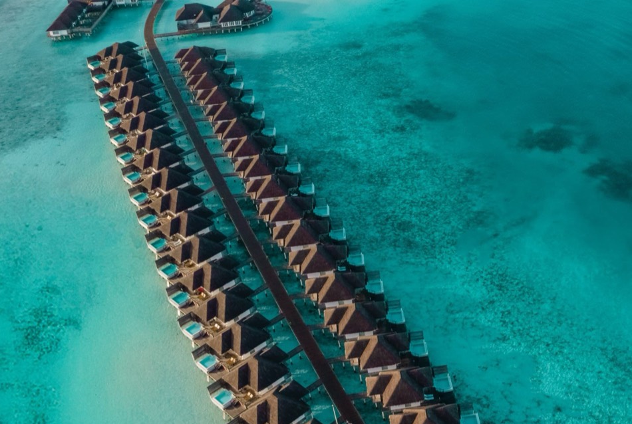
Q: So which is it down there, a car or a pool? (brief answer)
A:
pool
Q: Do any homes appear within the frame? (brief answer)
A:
Yes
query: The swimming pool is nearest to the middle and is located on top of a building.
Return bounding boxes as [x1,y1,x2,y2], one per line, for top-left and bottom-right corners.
[311,206,327,218]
